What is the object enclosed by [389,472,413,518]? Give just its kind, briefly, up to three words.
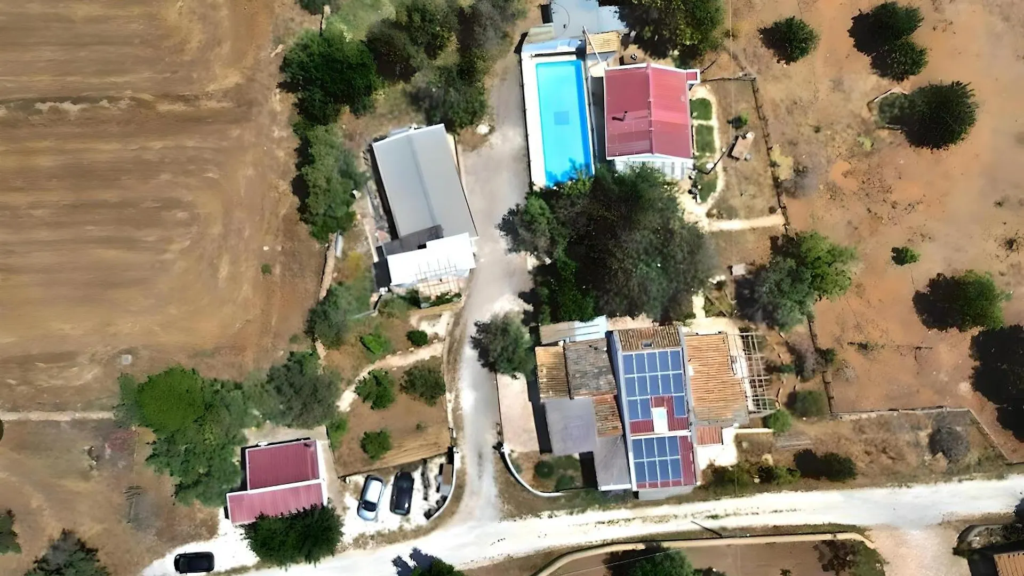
car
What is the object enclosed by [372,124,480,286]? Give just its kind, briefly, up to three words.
house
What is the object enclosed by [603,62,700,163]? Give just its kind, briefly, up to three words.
house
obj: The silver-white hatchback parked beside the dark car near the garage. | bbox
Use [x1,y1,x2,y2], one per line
[356,476,383,523]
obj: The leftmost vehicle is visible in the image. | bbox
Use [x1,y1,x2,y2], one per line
[171,553,214,576]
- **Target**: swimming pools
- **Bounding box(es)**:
[522,52,596,189]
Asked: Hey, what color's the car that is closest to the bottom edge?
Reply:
black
